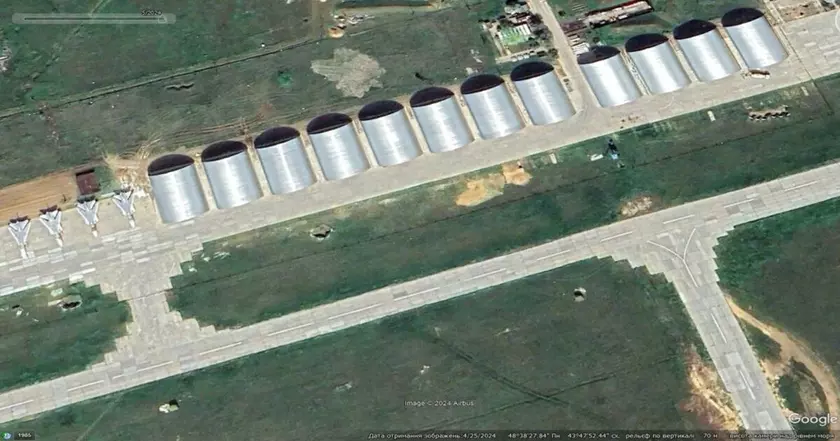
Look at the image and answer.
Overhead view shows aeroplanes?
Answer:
Yes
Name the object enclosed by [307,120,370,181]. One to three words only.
hangar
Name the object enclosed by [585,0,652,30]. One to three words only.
shed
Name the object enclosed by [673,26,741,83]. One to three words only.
hangar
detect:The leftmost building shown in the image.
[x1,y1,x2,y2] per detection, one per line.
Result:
[75,170,101,197]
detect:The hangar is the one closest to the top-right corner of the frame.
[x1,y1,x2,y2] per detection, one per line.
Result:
[722,15,789,70]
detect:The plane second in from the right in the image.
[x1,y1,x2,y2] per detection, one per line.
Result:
[77,196,99,237]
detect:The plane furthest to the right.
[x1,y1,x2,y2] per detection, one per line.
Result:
[112,188,134,229]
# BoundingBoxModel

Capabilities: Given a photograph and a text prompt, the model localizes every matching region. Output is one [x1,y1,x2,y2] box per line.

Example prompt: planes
[77,196,99,237]
[112,188,134,229]
[8,219,30,260]
[41,207,63,248]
